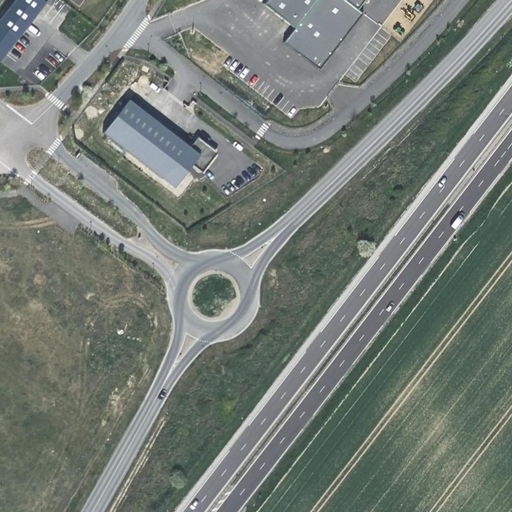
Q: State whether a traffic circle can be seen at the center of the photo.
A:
Yes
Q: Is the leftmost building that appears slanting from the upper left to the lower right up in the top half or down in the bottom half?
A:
top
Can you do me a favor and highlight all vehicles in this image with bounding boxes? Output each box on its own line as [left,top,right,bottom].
[48,56,57,66]
[149,83,161,94]
[39,63,49,74]
[20,36,29,46]
[231,179,240,188]
[16,42,25,52]
[158,389,166,400]
[385,302,394,312]
[206,170,214,180]
[232,142,244,152]
[190,498,198,509]
[234,64,244,74]
[438,176,448,186]
[452,212,466,228]
[242,170,252,180]
[230,60,238,70]
[224,56,233,66]
[54,52,64,62]
[220,184,230,194]
[240,68,249,78]
[250,74,258,85]
[28,24,40,36]
[11,48,20,58]
[35,70,46,80]
[288,107,296,117]
[236,175,246,186]
[226,182,236,192]
[274,94,282,104]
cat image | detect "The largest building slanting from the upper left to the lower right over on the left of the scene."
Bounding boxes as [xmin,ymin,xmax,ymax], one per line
[104,99,200,187]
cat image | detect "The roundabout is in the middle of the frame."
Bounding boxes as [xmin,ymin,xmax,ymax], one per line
[129,228,274,374]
